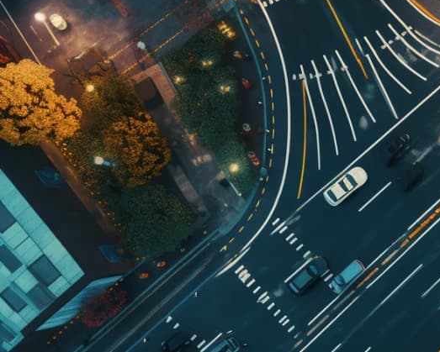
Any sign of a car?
Yes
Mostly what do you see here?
paved ground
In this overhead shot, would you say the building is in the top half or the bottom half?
bottom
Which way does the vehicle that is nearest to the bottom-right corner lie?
at an angle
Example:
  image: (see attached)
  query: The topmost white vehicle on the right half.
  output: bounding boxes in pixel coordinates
[323,162,370,208]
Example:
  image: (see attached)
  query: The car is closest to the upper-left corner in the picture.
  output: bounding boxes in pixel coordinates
[47,11,72,33]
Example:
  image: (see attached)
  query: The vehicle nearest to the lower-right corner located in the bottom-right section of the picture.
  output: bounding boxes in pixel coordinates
[326,257,367,297]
